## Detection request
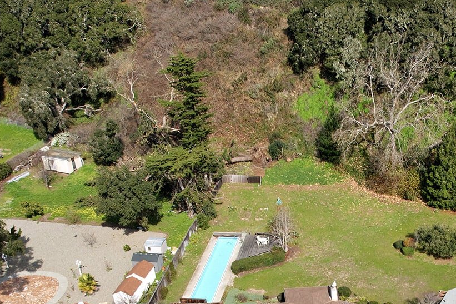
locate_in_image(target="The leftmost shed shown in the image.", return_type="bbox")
[39,144,82,173]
